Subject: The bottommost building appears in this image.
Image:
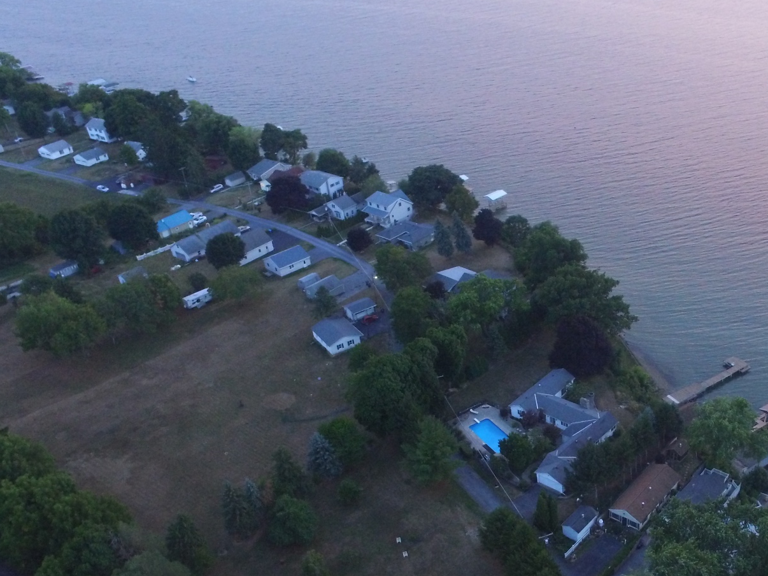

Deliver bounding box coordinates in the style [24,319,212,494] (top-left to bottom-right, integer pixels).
[561,508,600,545]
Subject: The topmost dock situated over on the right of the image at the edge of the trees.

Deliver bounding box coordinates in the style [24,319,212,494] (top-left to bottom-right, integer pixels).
[664,359,750,405]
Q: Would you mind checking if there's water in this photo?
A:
Yes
